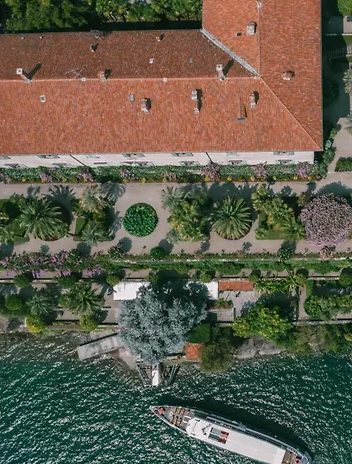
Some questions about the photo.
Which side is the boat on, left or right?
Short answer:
right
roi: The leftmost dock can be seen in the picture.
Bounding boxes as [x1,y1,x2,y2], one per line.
[77,335,119,359]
